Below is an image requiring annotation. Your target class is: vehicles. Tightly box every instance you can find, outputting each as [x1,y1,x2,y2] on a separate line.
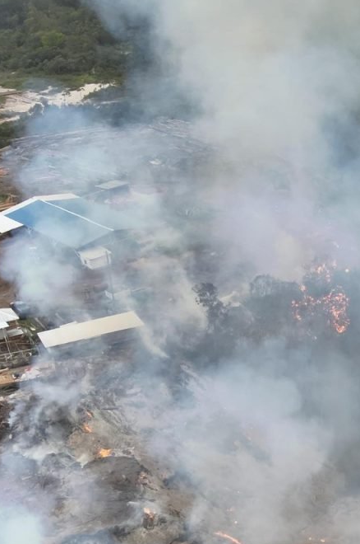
[10,297,30,313]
